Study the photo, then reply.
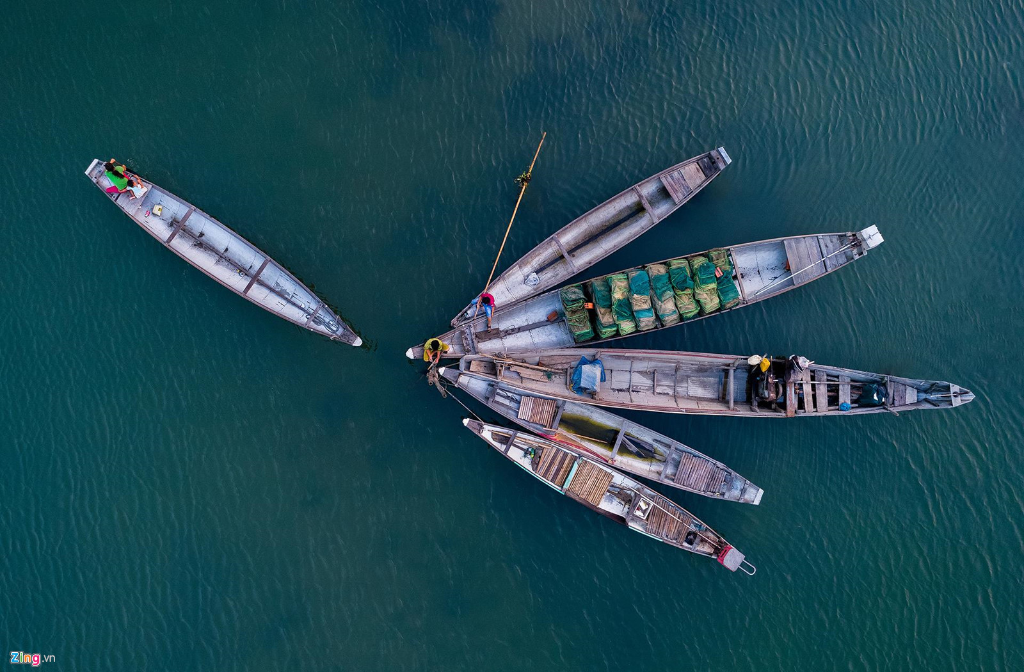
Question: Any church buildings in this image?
No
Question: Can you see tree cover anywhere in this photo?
No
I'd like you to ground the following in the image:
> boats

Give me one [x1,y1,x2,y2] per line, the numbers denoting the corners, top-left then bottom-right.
[450,146,733,327]
[83,157,366,347]
[437,368,766,506]
[461,419,756,575]
[461,348,975,417]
